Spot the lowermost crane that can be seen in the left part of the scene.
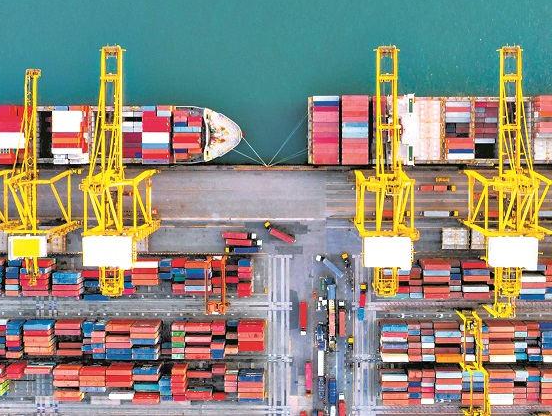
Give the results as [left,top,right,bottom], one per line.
[203,255,231,316]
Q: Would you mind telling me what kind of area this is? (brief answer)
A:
port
